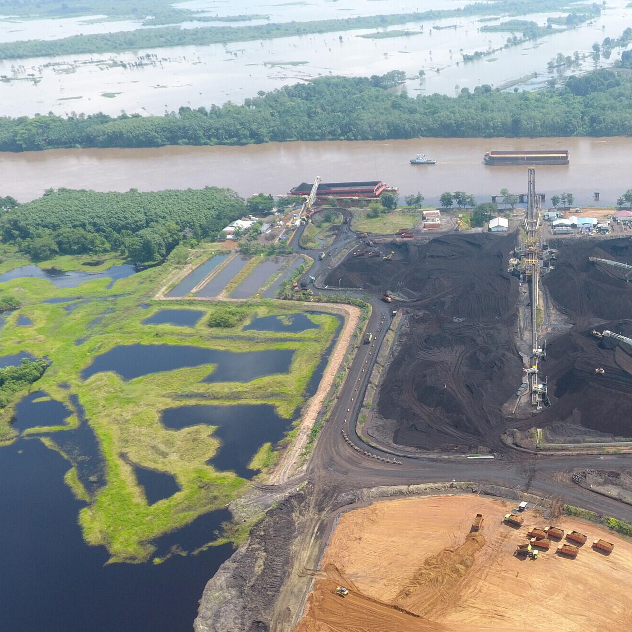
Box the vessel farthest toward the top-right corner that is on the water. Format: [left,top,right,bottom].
[483,151,569,164]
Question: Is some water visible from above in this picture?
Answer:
Yes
